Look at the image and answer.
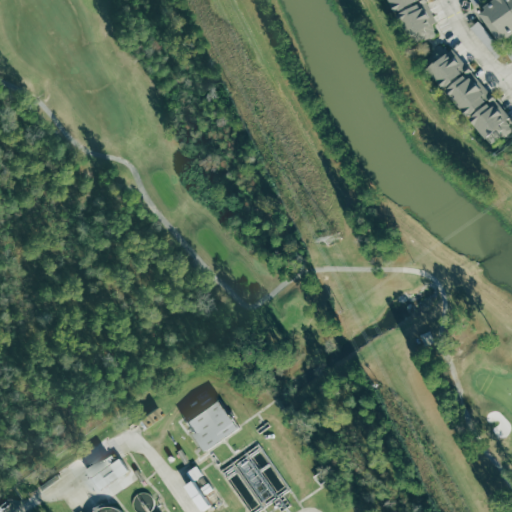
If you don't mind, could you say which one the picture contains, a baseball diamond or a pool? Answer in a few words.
pool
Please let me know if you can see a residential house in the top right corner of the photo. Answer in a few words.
Yes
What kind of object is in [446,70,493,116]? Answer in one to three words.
house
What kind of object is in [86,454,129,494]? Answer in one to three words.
building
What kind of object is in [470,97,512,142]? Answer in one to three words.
house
